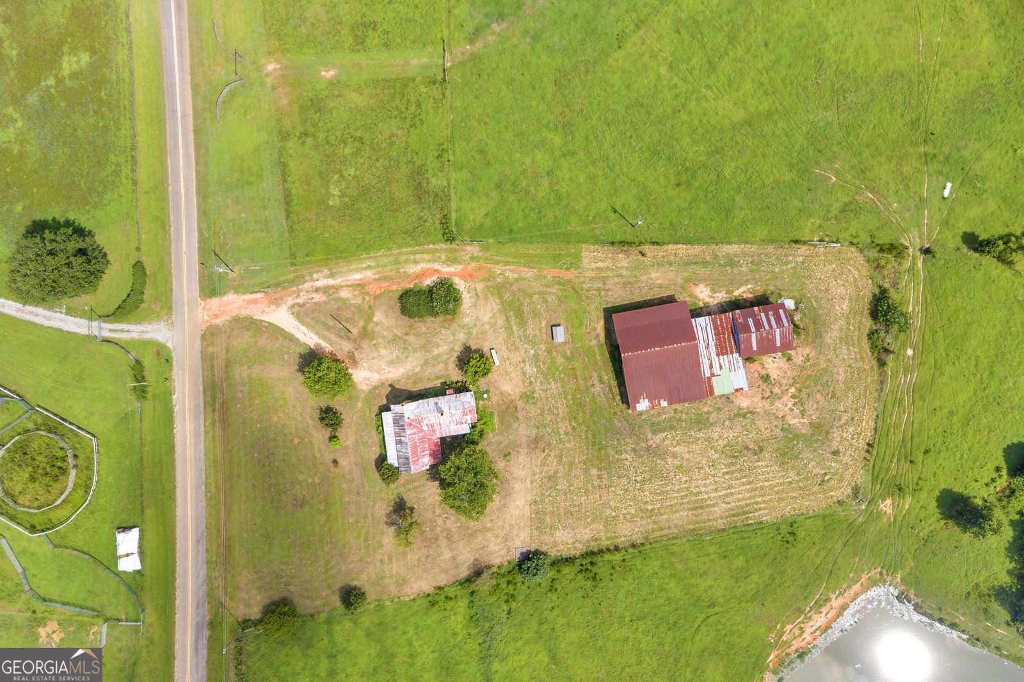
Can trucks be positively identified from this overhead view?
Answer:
No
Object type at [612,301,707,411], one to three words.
barn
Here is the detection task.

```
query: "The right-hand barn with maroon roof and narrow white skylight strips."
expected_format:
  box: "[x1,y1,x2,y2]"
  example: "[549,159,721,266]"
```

[729,303,793,358]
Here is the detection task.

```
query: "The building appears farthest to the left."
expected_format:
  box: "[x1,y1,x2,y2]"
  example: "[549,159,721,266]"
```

[382,389,477,473]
